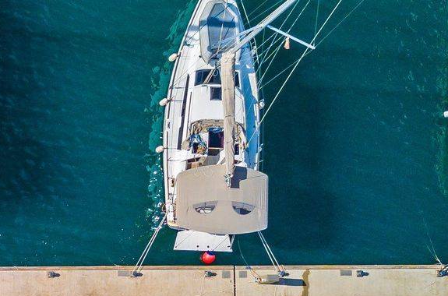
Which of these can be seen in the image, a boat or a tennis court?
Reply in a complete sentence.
Looking from above, you can make out a boat.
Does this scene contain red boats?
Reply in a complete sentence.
No, there's no red boat here.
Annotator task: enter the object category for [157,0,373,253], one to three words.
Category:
boat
